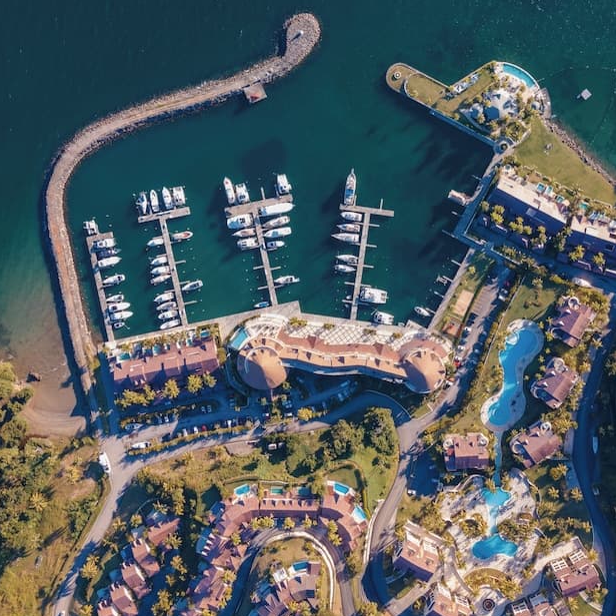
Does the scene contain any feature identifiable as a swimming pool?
Yes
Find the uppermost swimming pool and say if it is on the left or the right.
right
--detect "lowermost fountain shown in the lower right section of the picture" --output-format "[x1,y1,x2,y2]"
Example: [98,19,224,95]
[479,596,497,615]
